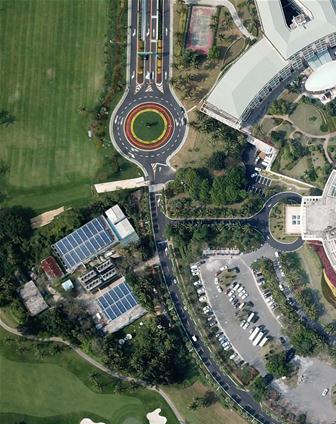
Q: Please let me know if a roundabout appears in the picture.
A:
Yes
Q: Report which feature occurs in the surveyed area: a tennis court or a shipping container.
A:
tennis court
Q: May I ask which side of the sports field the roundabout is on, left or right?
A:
on its right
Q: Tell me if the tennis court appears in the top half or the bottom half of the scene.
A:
top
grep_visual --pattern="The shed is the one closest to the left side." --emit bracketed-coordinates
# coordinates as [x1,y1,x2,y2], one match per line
[20,281,53,314]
